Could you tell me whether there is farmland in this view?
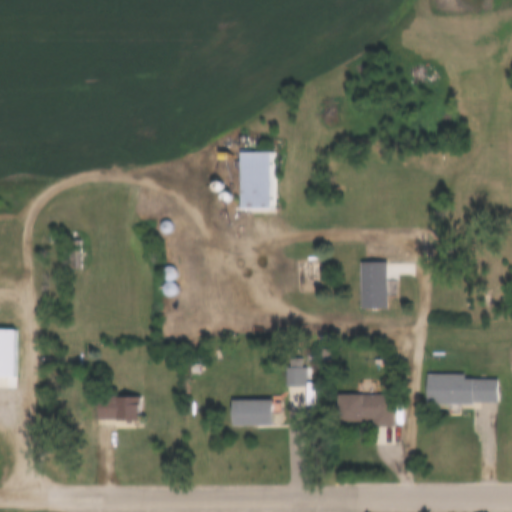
Yes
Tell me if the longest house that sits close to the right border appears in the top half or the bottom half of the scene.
bottom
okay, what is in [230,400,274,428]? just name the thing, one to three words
house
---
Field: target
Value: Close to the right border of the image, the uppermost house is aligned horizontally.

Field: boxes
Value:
[426,373,498,406]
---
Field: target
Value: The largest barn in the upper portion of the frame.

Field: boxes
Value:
[240,152,279,213]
